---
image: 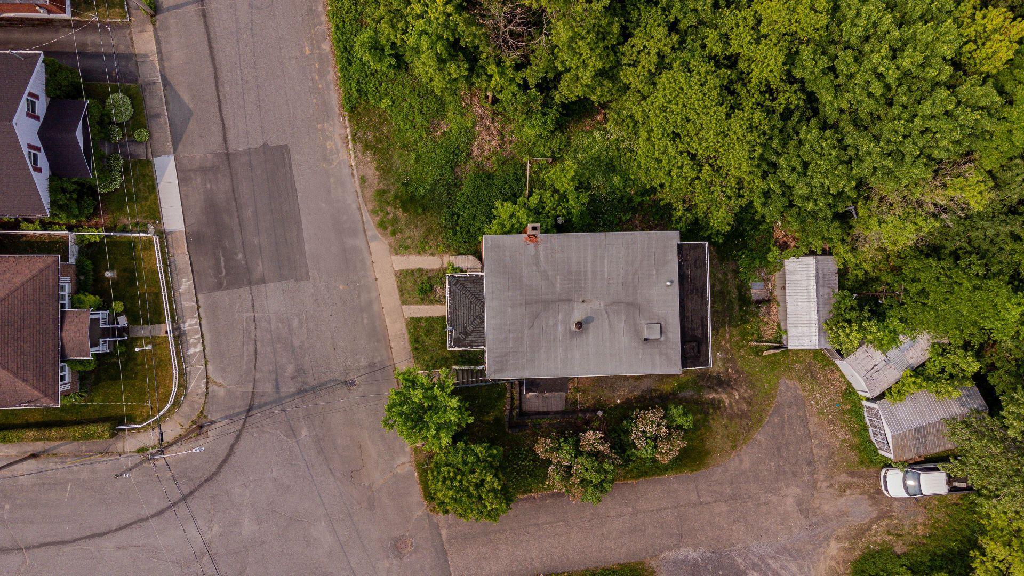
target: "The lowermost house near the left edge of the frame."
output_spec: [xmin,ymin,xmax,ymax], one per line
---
[0,254,139,408]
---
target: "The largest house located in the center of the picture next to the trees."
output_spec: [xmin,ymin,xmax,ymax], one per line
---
[444,224,713,394]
